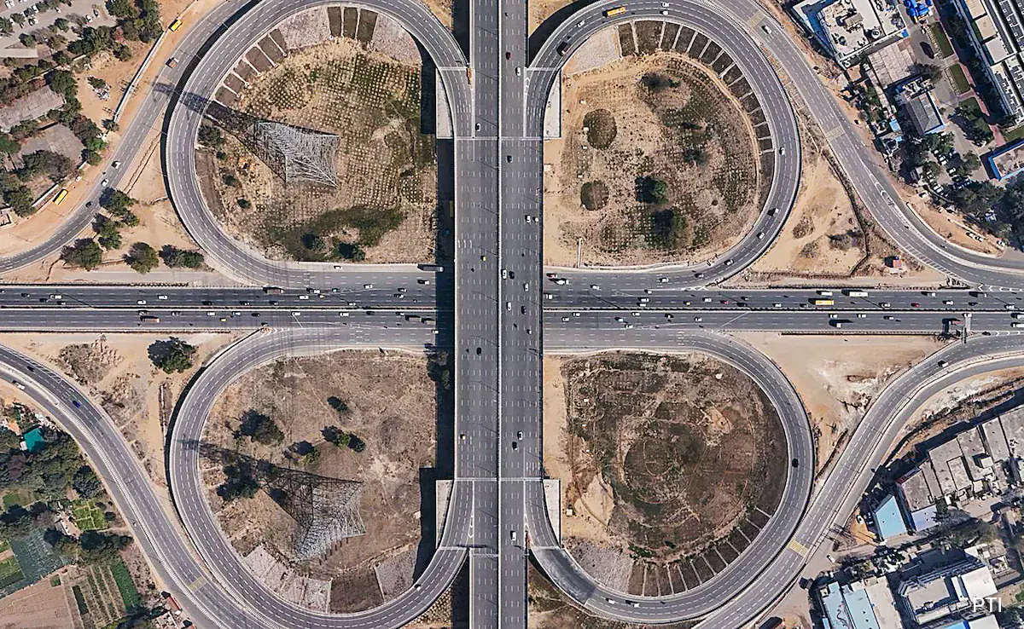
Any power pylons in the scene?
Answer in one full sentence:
Yes, the picture does show a power pylon.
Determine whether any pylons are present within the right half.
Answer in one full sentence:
No, no pylon can be made out within the right half.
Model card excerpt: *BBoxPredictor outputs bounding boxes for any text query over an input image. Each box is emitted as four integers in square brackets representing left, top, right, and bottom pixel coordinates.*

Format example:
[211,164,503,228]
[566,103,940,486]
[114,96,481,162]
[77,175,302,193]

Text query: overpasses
[436,0,561,629]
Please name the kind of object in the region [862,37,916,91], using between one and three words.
building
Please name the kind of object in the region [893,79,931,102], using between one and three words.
building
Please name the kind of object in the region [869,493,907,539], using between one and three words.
shed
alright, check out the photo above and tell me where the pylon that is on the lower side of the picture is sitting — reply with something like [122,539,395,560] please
[282,481,365,560]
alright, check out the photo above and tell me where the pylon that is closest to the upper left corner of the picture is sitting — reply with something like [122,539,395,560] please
[252,117,339,186]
